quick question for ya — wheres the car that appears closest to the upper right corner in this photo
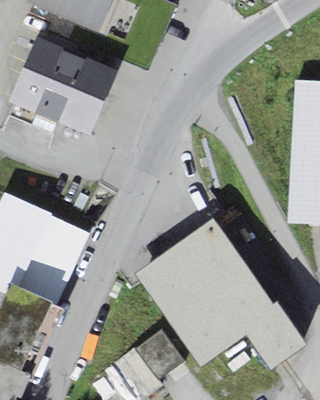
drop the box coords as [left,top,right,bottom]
[168,25,188,40]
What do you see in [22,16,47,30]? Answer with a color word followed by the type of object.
white vehicle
